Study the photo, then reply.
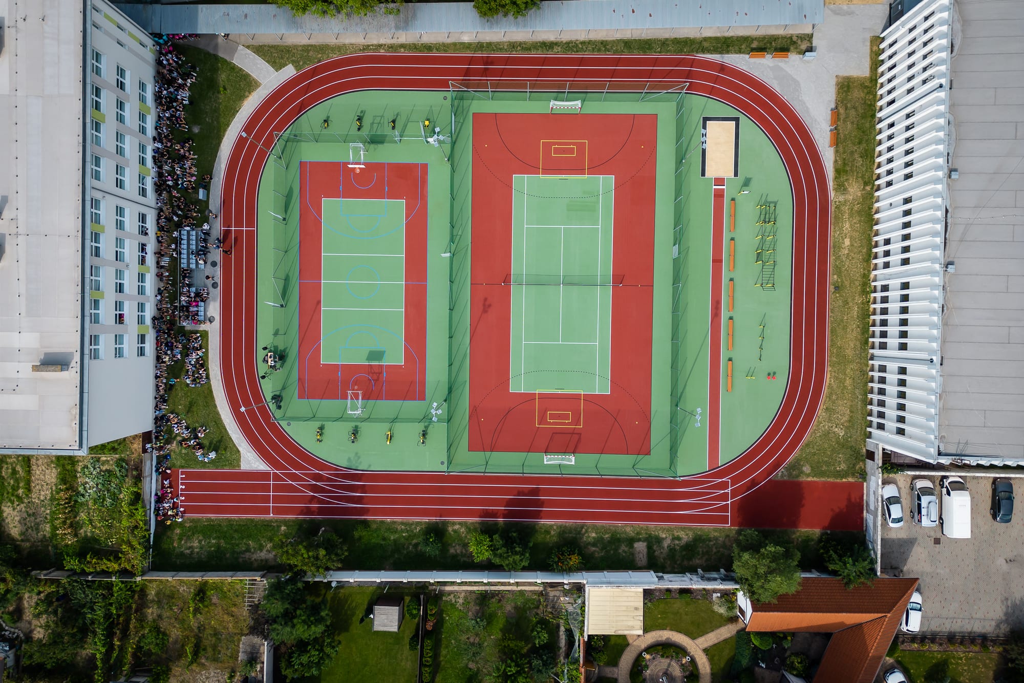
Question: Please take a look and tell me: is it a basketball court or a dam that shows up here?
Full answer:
This aerial view contains a basketball court.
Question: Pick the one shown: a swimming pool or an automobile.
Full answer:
This aerial view contains an automobile.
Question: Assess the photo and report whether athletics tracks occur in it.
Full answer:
Yes, an athletics track is visible in the scene.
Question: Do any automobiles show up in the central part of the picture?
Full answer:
No, looking in the central part of the picture, there is no automobile.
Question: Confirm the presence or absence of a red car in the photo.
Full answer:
No, there appears to be no red car in this shot.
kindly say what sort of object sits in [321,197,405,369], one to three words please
sports court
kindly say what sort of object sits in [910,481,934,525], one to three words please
car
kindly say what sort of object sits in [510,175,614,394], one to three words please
tennis court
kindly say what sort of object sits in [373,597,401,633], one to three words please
shed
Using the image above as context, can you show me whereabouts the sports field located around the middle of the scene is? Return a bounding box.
[259,92,792,475]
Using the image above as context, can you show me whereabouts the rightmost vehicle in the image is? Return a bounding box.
[988,481,1013,521]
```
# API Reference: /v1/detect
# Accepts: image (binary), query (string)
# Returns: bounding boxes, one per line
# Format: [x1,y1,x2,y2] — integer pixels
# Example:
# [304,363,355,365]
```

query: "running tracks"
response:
[180,52,832,526]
